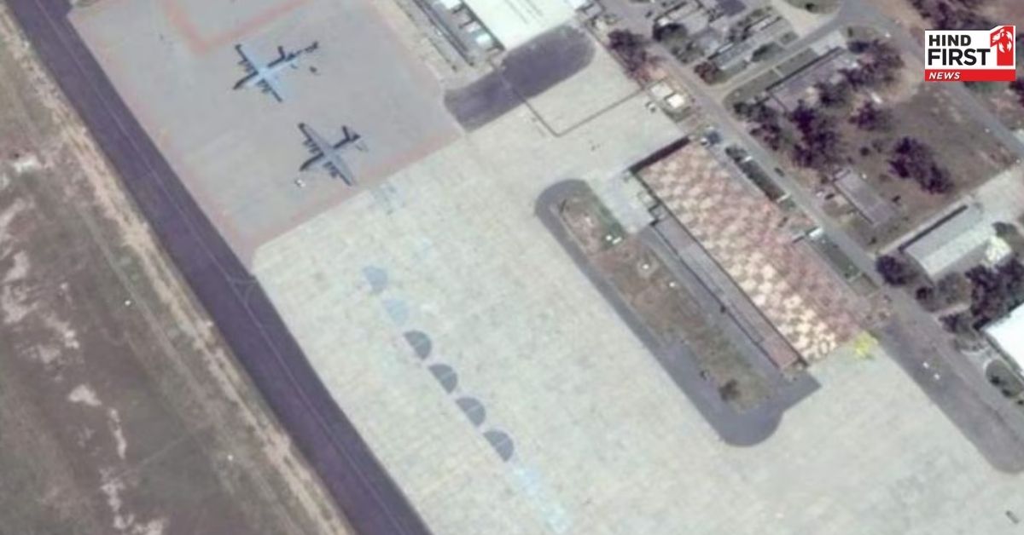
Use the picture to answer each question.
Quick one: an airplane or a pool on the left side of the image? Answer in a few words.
airplane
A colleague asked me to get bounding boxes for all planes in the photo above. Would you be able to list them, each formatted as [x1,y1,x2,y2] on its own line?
[242,40,301,105]
[309,121,369,187]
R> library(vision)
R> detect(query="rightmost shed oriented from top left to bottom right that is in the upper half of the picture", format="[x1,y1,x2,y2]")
[840,171,893,223]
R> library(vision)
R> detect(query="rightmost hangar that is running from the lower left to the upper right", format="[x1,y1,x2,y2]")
[907,204,1001,274]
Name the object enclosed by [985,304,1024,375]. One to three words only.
building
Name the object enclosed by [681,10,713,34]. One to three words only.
house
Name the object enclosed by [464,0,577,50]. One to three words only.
hangar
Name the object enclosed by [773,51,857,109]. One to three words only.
building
